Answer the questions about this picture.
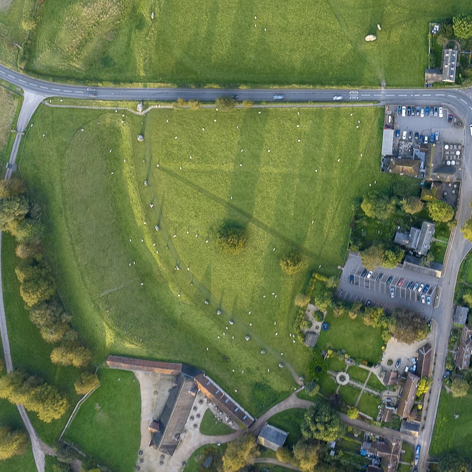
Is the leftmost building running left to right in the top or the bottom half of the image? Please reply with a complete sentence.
The leftmost building running left to right sits in the bottom half of the picture.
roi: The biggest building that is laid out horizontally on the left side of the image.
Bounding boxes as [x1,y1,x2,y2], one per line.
[105,353,183,375]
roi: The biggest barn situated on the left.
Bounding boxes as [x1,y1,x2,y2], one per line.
[149,374,200,454]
